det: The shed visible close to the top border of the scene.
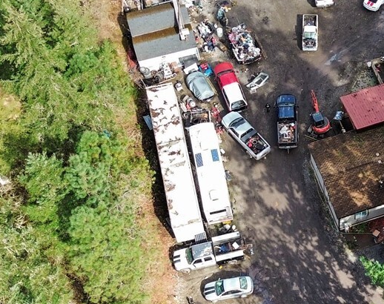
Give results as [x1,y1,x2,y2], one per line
[121,0,199,75]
